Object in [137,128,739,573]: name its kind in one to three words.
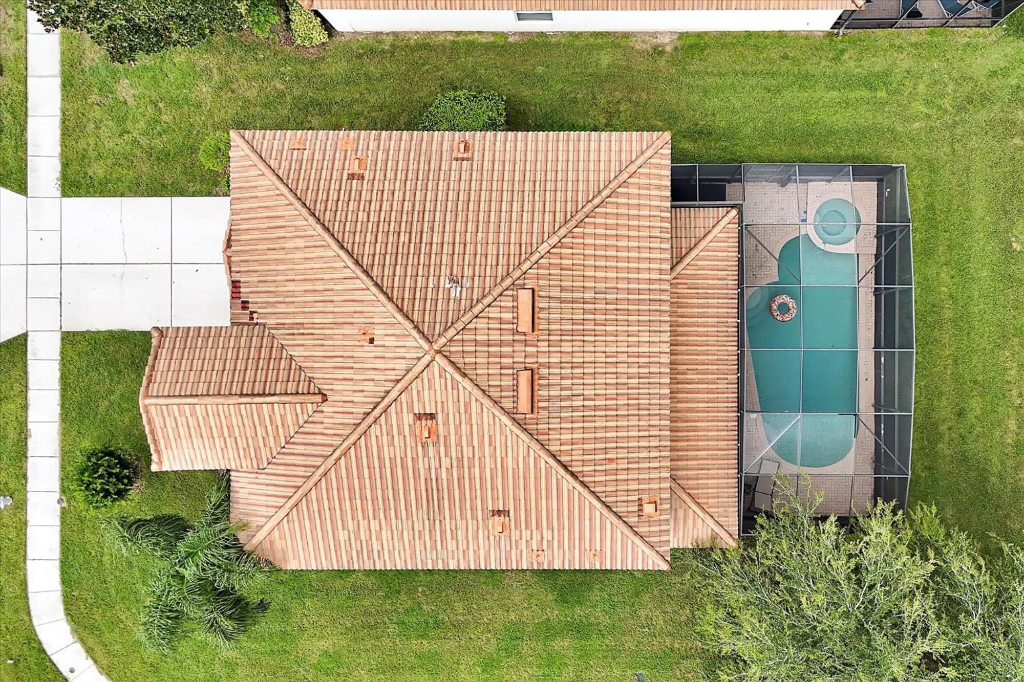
house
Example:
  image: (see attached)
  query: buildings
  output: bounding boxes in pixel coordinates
[137,128,739,573]
[292,0,871,38]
